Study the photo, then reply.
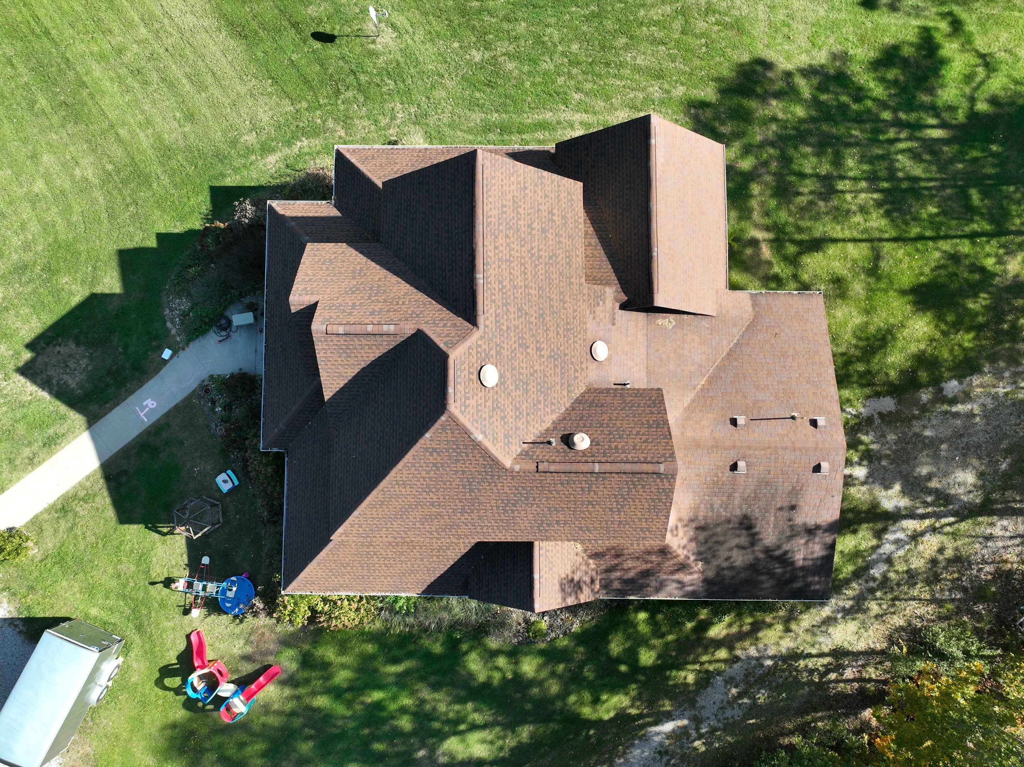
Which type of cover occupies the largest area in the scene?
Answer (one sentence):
For the most part, this view shows grass.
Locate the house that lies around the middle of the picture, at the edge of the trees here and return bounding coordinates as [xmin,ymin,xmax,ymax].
[261,114,846,617]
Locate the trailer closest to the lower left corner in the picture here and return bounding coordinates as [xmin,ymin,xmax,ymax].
[0,610,129,767]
